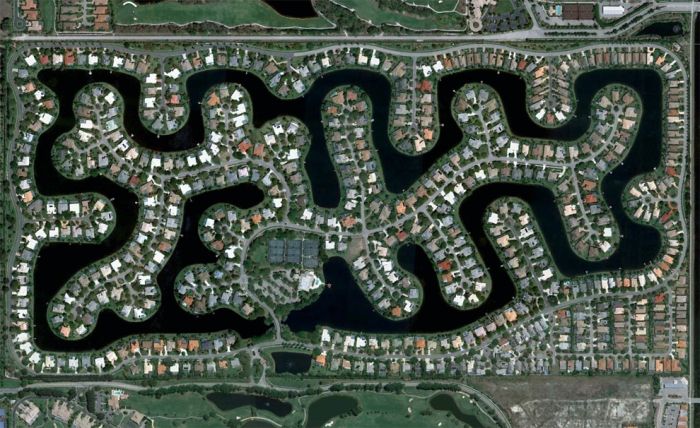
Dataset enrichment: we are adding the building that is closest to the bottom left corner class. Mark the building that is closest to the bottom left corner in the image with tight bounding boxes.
[15,399,40,425]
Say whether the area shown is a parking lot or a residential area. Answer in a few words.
residential area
